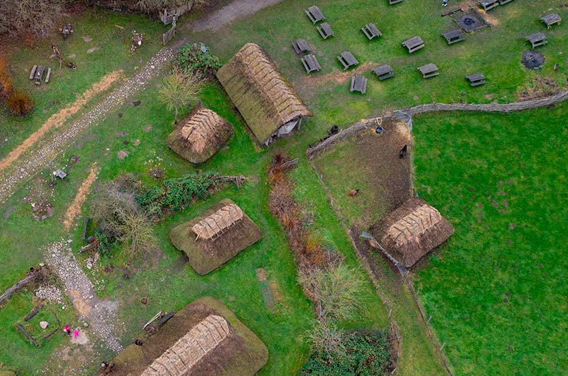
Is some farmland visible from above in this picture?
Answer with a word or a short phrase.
Yes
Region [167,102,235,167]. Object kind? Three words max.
building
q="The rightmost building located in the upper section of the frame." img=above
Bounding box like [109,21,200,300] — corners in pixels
[216,43,314,151]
